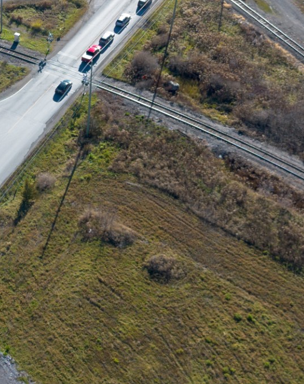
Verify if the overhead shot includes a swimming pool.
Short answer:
No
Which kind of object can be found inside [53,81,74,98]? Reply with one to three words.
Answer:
car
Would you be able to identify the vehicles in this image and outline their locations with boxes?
[80,44,102,62]
[98,32,115,46]
[137,0,153,11]
[53,81,74,98]
[115,14,131,28]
